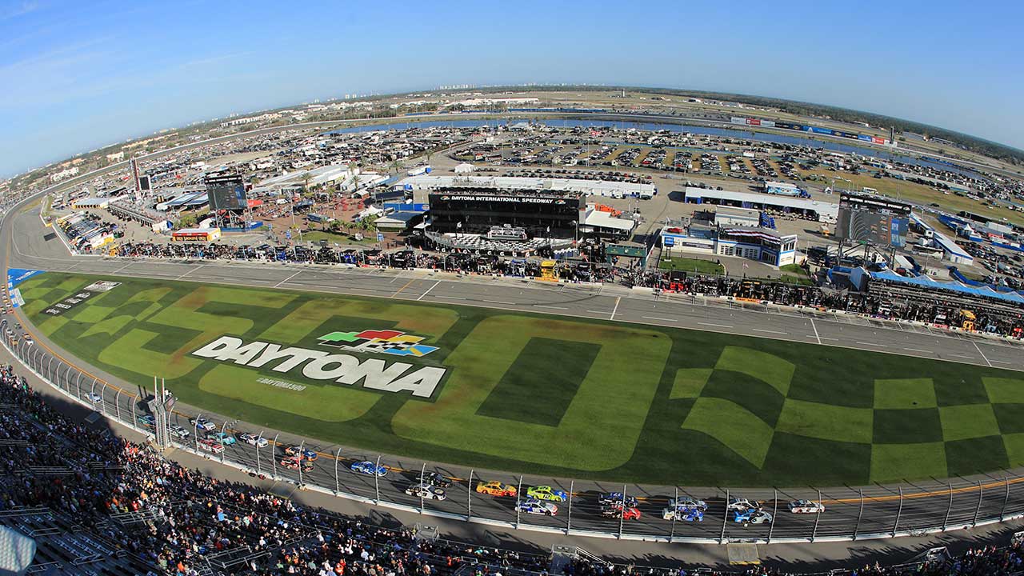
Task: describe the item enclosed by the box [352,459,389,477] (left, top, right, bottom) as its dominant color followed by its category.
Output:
blue car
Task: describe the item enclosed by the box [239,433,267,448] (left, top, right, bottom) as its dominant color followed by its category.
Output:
white car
